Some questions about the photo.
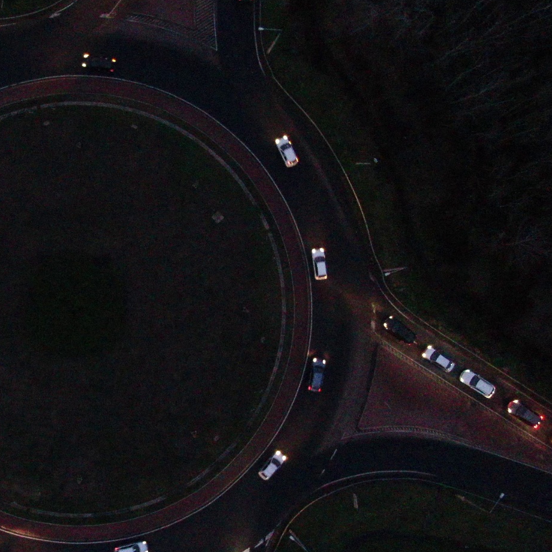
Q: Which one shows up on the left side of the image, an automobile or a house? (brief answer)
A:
automobile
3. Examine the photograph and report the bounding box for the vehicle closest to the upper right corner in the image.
[274,137,296,168]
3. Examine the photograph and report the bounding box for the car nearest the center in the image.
[309,247,327,281]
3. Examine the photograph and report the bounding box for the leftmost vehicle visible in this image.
[84,54,114,72]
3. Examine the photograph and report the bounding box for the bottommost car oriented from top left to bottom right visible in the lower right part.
[509,402,540,426]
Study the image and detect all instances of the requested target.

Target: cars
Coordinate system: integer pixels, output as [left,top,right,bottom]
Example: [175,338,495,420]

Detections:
[422,346,455,372]
[307,360,325,389]
[84,54,114,72]
[116,541,146,552]
[260,451,284,480]
[383,317,416,344]
[309,247,327,281]
[460,370,494,397]
[509,402,540,426]
[274,137,296,168]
